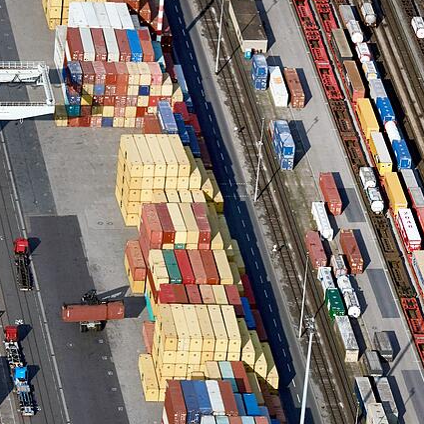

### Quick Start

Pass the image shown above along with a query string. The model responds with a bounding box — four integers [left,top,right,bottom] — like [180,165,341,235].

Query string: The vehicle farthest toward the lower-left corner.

[13,369,34,414]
